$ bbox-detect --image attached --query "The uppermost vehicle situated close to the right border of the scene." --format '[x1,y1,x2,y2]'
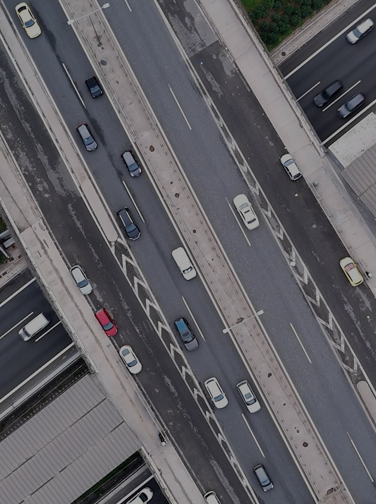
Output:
[345,17,376,46]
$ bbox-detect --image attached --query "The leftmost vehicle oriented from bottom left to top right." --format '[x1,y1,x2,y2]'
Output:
[17,311,53,343]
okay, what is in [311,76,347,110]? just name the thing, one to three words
car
